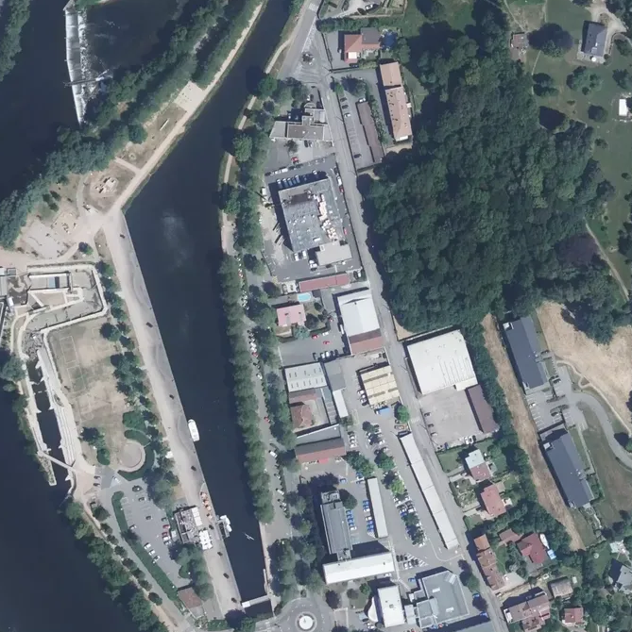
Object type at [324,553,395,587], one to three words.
building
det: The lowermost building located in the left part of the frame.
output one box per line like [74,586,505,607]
[178,588,211,623]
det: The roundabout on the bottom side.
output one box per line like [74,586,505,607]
[282,599,331,632]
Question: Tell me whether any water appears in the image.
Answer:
Yes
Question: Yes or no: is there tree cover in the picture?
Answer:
Yes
